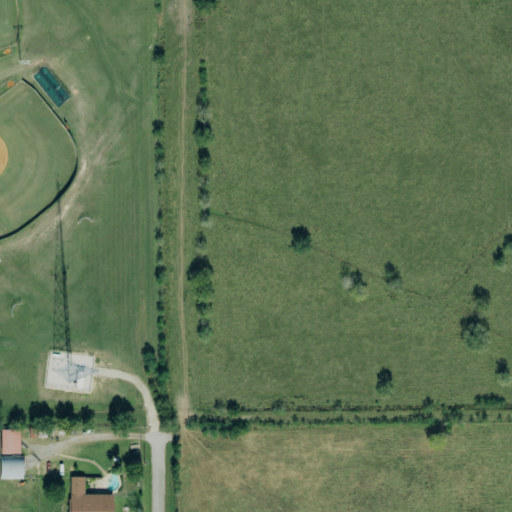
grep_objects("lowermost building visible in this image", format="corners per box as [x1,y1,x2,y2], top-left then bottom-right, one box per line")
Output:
[70,477,116,512]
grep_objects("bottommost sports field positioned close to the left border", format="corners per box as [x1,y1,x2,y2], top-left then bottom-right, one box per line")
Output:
[0,79,77,238]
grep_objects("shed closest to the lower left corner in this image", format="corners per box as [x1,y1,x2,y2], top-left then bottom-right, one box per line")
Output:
[0,456,26,479]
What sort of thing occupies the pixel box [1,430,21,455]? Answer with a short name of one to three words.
barn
